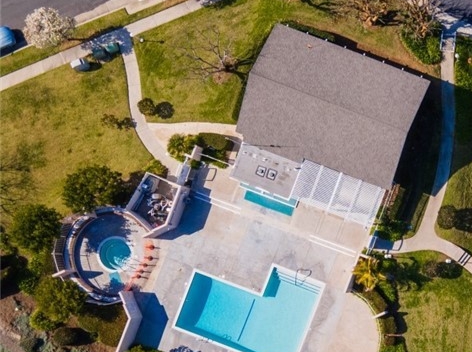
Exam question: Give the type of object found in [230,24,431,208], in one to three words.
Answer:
building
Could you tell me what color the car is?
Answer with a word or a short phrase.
blue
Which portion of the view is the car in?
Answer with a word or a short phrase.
top left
